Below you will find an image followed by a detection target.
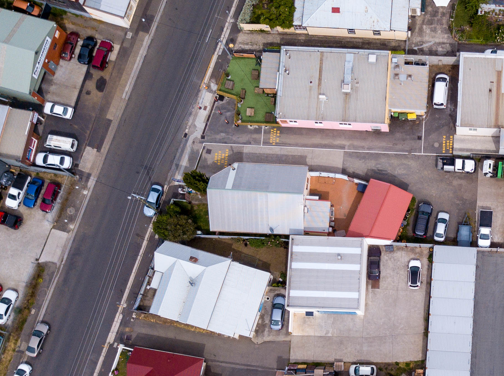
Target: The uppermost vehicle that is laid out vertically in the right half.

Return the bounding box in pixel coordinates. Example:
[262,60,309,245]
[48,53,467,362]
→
[433,73,449,110]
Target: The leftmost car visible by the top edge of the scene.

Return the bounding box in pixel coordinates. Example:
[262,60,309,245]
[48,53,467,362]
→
[10,0,45,18]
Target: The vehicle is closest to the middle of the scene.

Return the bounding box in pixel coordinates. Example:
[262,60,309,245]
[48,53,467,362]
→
[143,184,165,217]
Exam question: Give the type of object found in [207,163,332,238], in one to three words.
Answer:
house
